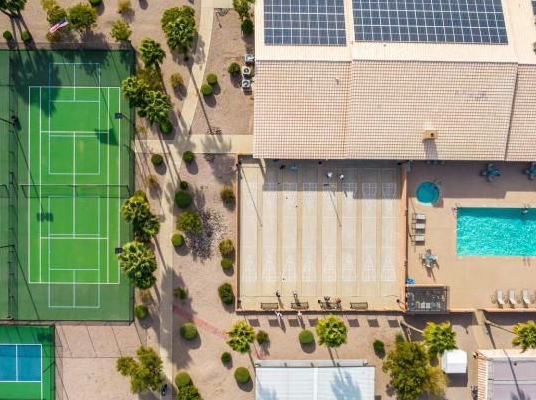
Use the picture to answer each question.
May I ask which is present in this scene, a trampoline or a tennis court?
tennis court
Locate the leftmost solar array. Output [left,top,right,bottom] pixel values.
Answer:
[263,0,345,44]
